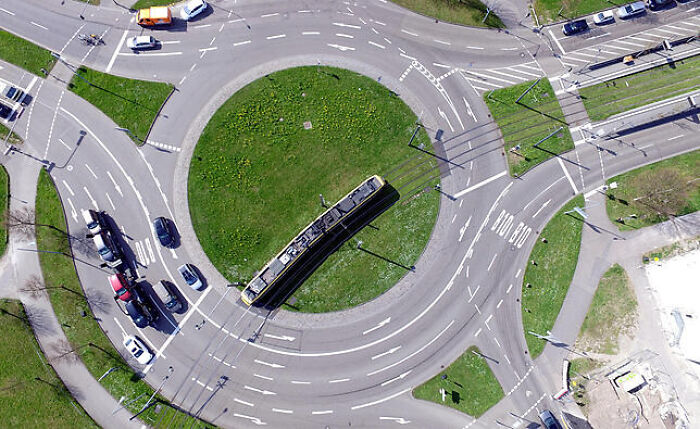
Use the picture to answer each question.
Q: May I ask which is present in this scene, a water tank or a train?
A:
train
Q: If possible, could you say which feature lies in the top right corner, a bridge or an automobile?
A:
automobile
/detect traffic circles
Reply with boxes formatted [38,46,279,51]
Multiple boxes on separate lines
[133,15,495,372]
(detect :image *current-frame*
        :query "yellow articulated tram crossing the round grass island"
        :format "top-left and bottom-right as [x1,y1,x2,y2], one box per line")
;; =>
[241,171,389,303]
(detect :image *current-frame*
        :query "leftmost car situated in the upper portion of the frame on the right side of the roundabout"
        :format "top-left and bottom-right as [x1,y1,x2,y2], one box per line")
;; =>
[560,19,591,38]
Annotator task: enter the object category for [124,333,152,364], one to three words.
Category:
car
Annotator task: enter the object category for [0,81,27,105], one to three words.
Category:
car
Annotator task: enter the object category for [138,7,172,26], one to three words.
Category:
vehicle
